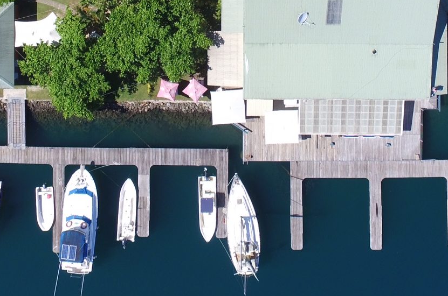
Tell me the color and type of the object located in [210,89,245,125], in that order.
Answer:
white umbrella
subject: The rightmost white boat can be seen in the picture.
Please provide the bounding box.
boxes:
[224,172,259,296]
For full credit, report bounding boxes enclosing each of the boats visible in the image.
[54,164,98,295]
[198,169,217,243]
[35,182,55,231]
[117,178,138,250]
[224,172,259,296]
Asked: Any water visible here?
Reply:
Yes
